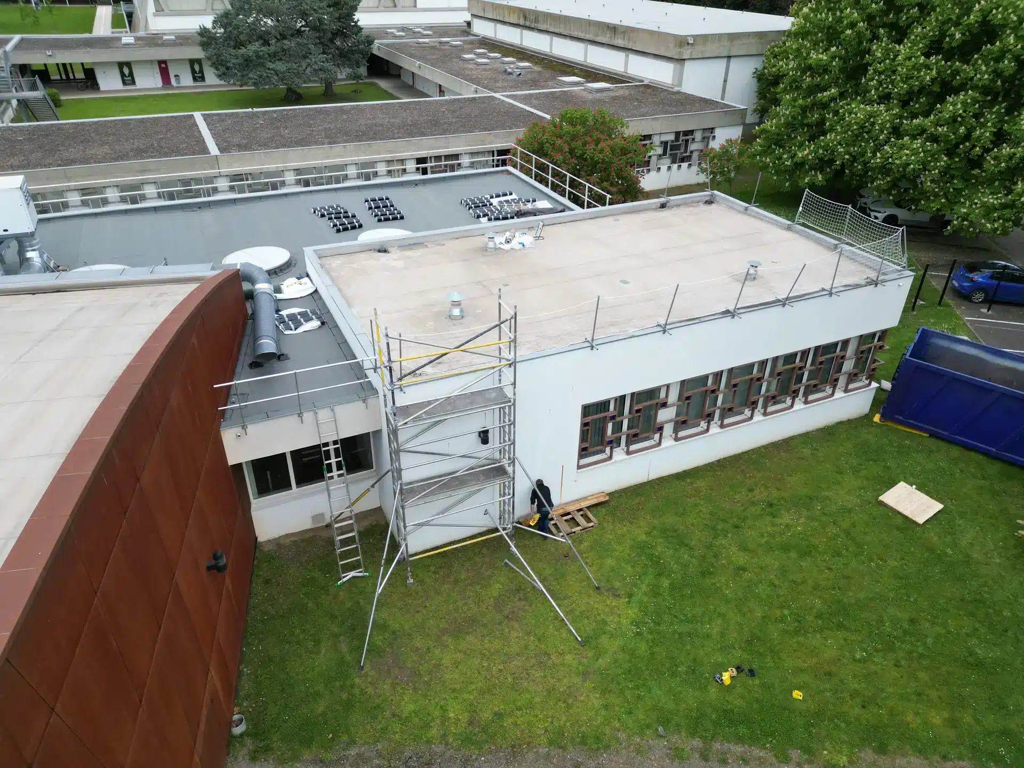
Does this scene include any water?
No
